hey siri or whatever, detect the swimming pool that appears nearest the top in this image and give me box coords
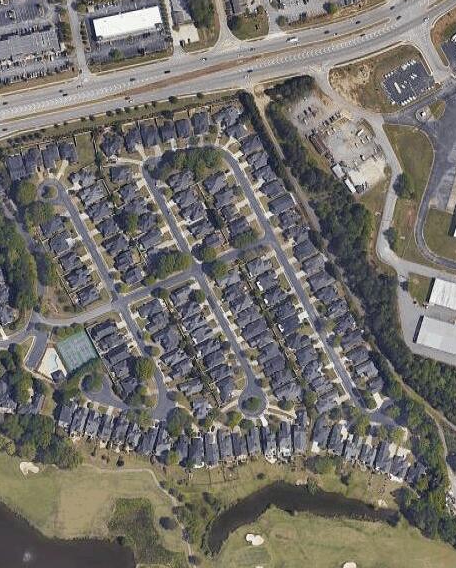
[38,347,66,376]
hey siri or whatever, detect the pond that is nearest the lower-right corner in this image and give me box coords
[205,480,399,556]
